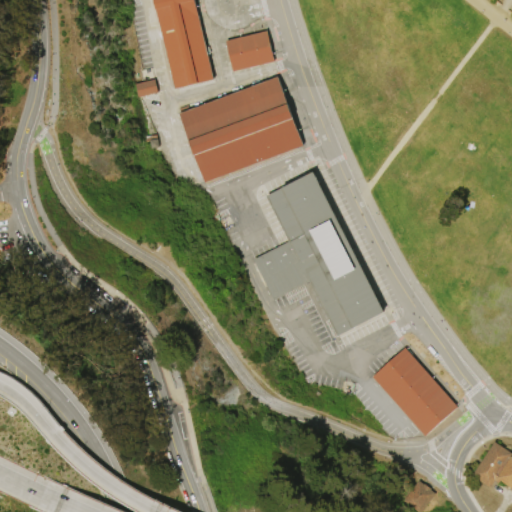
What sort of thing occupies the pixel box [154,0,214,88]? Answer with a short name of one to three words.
building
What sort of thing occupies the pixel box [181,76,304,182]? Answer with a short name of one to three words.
building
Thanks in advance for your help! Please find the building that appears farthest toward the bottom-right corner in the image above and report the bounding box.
[477,443,512,488]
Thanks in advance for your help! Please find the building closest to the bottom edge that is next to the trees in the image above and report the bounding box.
[404,482,438,512]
